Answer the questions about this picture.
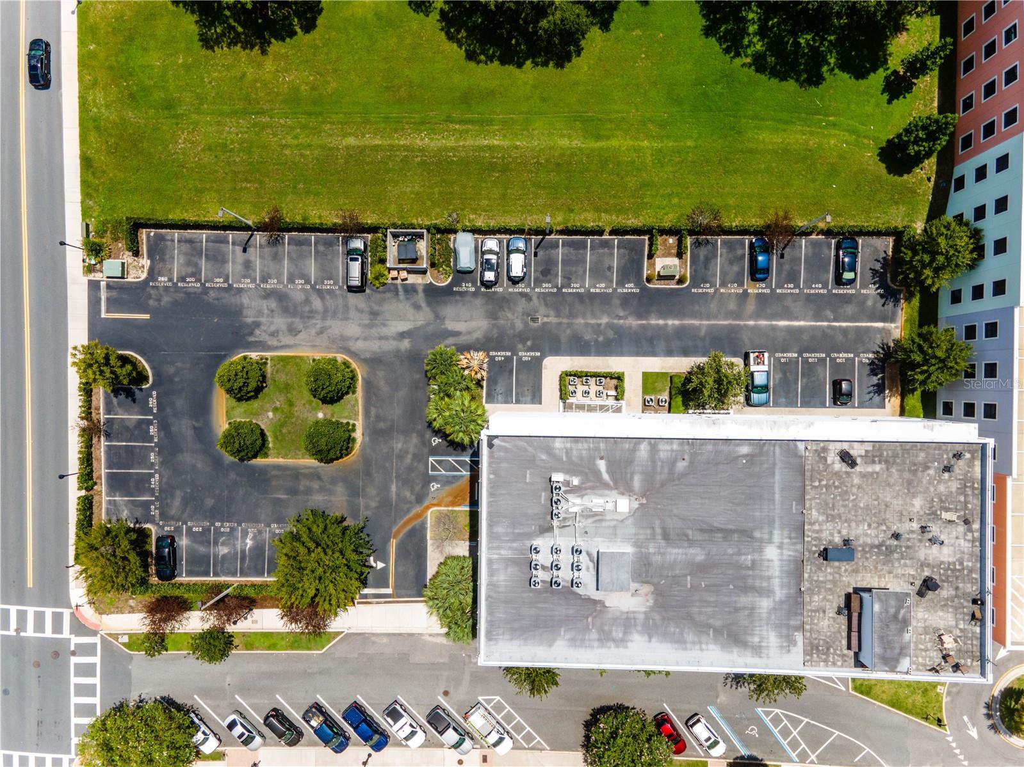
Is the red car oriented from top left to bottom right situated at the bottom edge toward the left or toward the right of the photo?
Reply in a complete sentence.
It is on the right.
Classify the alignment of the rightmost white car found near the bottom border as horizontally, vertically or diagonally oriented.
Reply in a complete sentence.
The rightmost white car found near the bottom border is laid out diagonally.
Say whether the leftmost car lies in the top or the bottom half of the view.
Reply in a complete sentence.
The leftmost car sits in the top half of the picture.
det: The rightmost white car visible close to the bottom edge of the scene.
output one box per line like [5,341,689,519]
[683,708,726,758]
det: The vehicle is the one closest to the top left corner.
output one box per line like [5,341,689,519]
[24,39,55,90]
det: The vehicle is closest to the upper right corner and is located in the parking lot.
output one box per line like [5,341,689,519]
[833,237,860,287]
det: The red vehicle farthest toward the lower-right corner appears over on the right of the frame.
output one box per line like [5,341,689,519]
[650,709,688,755]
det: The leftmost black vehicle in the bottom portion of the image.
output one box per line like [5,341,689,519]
[154,532,181,583]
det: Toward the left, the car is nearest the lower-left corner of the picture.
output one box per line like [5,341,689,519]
[176,705,224,754]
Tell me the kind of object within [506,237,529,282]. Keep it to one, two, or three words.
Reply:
car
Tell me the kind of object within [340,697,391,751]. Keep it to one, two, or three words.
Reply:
truck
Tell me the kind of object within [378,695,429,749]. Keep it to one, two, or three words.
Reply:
truck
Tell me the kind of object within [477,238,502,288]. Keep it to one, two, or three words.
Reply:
car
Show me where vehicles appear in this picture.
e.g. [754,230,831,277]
[424,696,475,751]
[259,701,307,749]
[477,238,502,288]
[299,697,353,754]
[745,348,772,408]
[506,237,529,282]
[683,708,726,758]
[24,39,55,90]
[650,709,688,755]
[176,705,224,754]
[340,697,391,751]
[219,704,267,753]
[459,695,512,753]
[747,234,773,285]
[378,695,429,749]
[830,377,854,406]
[154,532,181,583]
[342,238,368,292]
[833,237,860,287]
